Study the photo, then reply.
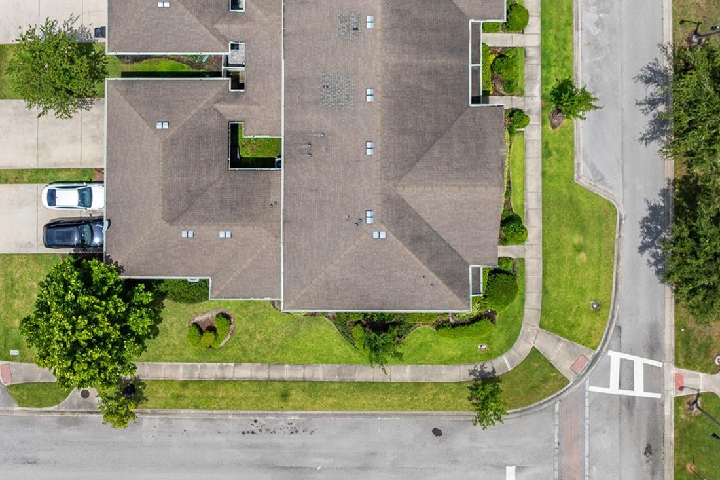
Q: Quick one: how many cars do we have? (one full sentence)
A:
In total, 2 cars can be seen.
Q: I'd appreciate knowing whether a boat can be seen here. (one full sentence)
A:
No, no boat can be seen from above.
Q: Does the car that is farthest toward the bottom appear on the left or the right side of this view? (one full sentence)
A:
The car that is farthest toward the bottom sits on the left side.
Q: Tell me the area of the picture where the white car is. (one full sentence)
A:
You can find the white car in the left area of the picture.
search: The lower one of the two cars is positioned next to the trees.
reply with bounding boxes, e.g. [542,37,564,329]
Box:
[43,216,106,250]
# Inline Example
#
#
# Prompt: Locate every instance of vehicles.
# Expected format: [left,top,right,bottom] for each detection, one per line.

[43,216,106,250]
[41,180,106,212]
